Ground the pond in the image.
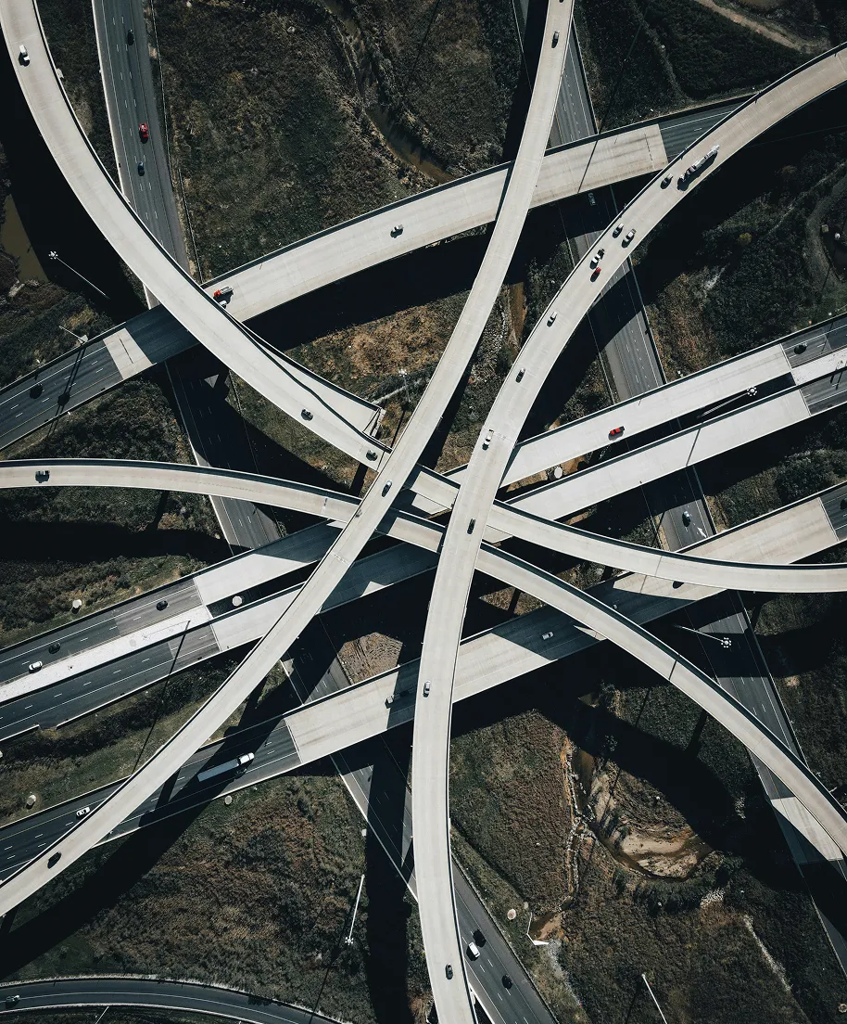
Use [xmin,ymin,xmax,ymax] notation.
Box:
[0,174,61,284]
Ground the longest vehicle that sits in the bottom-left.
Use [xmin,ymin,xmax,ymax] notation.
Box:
[196,753,251,782]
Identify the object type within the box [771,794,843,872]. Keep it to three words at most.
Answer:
bridge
